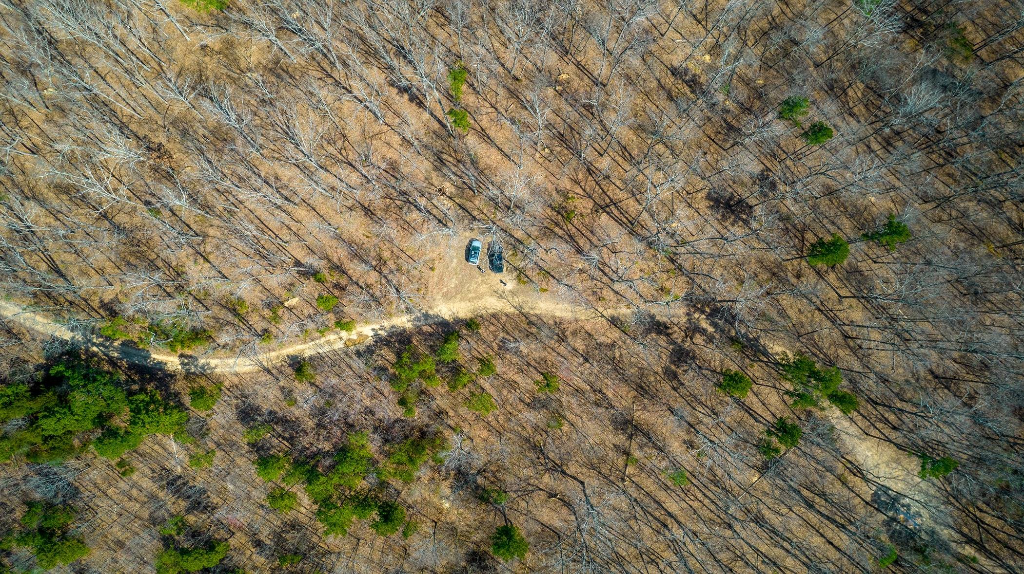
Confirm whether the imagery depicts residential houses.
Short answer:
No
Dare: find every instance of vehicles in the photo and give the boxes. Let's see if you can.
[491,241,505,274]
[468,238,481,266]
